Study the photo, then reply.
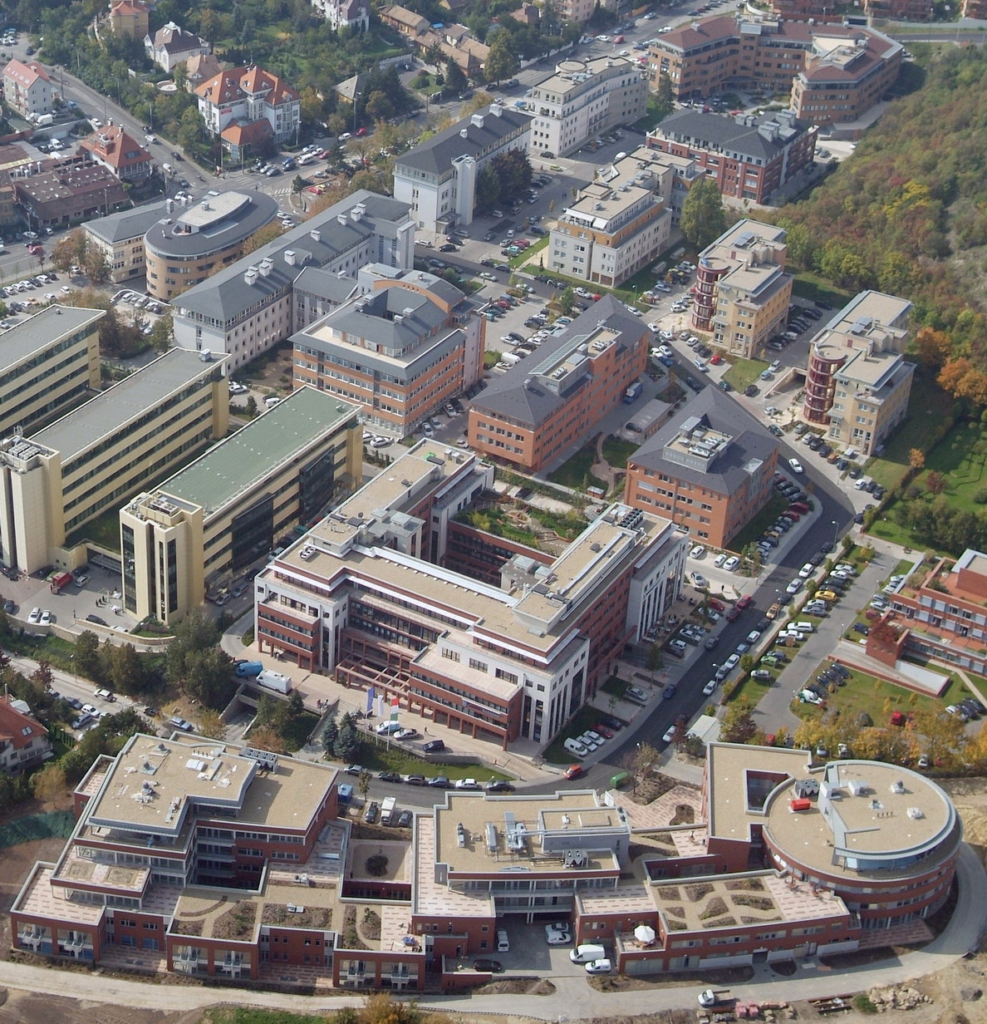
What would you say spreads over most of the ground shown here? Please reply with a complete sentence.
Most of the picture is covered by buildings.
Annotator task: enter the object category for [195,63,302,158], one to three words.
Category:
house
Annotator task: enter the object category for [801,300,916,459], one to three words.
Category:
building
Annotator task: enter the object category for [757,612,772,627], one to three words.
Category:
car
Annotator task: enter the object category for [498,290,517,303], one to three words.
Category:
vehicle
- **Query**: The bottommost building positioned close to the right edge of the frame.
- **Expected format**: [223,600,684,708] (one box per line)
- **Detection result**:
[641,742,964,967]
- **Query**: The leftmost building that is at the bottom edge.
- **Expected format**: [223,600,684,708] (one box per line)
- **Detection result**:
[11,731,426,984]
